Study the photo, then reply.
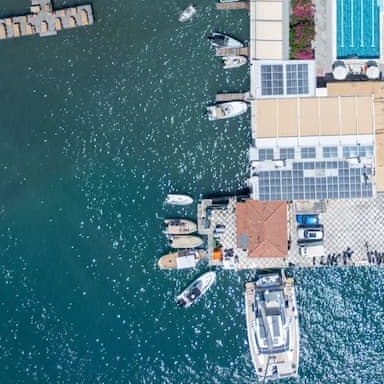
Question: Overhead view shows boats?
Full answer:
Yes, there is a boat in the image.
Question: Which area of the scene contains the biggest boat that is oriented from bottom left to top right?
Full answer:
The biggest boat that is oriented from bottom left to top right is in the bottom part of the image.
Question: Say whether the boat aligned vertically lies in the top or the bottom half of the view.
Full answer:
It is in the bottom half that the boat aligned vertically appears.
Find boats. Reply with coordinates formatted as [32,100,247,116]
[165,235,201,247]
[244,257,299,384]
[179,3,197,19]
[203,102,247,119]
[159,219,196,235]
[161,193,193,204]
[173,272,215,308]
[204,28,243,47]
[159,249,203,271]
[218,55,248,68]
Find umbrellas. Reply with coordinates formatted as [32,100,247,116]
[364,64,380,78]
[332,64,348,79]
